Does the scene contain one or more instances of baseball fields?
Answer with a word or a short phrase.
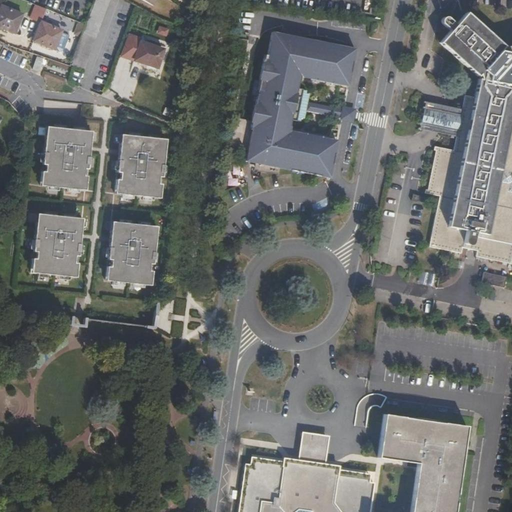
No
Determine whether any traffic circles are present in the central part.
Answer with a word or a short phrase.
Yes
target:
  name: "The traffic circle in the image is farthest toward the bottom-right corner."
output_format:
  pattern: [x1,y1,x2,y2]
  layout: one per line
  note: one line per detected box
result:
[299,378,339,418]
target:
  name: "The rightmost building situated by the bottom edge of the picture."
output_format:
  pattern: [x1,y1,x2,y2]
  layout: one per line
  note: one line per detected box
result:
[380,414,472,512]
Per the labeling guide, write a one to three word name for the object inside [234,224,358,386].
roundabout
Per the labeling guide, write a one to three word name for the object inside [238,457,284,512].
building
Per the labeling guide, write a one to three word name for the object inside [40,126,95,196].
building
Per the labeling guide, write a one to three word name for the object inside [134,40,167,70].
house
